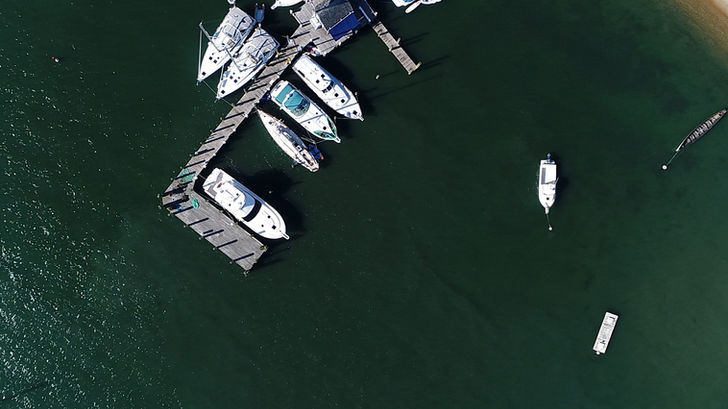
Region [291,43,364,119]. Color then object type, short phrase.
white boat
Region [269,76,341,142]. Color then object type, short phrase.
white boat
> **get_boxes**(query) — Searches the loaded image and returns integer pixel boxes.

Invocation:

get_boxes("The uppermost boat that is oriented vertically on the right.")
[539,154,560,228]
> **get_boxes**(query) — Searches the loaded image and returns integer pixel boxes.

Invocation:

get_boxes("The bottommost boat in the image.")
[594,312,619,354]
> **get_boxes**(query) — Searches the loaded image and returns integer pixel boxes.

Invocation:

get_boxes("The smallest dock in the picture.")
[373,21,420,78]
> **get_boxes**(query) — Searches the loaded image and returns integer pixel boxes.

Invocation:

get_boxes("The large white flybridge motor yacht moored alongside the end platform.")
[198,166,289,239]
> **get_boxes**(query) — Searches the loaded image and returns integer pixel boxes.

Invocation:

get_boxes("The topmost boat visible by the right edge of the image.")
[666,108,728,164]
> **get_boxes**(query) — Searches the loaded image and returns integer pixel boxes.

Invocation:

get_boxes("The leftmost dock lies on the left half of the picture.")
[158,0,380,275]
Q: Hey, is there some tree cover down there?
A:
No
